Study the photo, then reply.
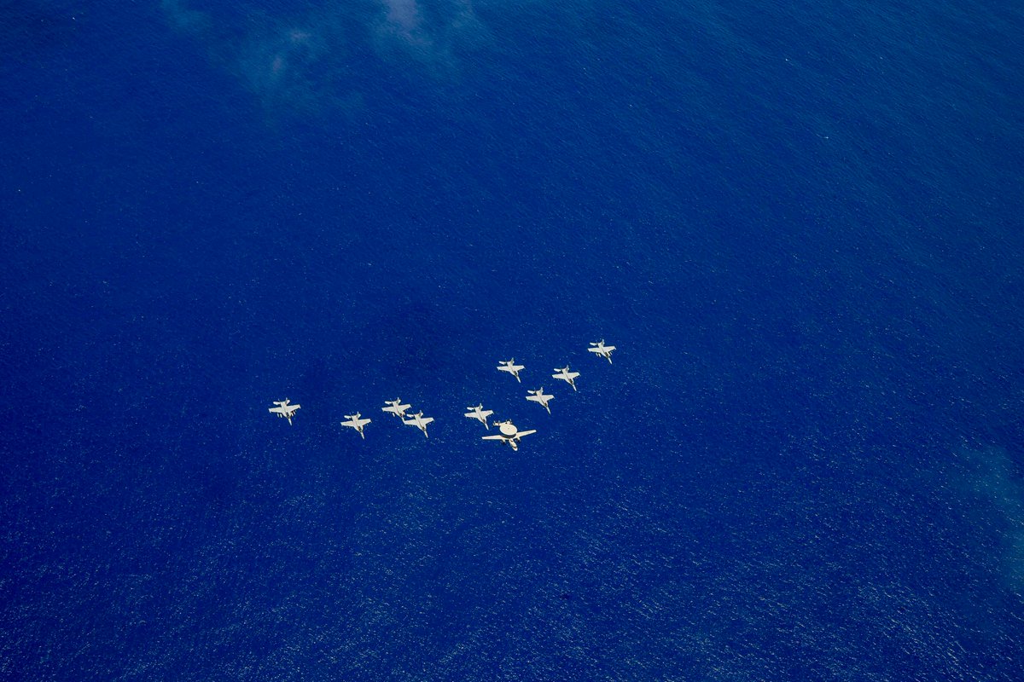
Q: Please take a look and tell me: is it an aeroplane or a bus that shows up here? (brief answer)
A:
aeroplane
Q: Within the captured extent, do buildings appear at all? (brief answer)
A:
No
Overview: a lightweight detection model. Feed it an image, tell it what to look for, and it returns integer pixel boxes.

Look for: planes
[269,397,300,425]
[482,419,536,452]
[341,412,372,439]
[526,387,555,414]
[382,397,412,424]
[552,365,581,391]
[588,339,616,364]
[404,410,434,438]
[465,403,494,429]
[497,357,525,383]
